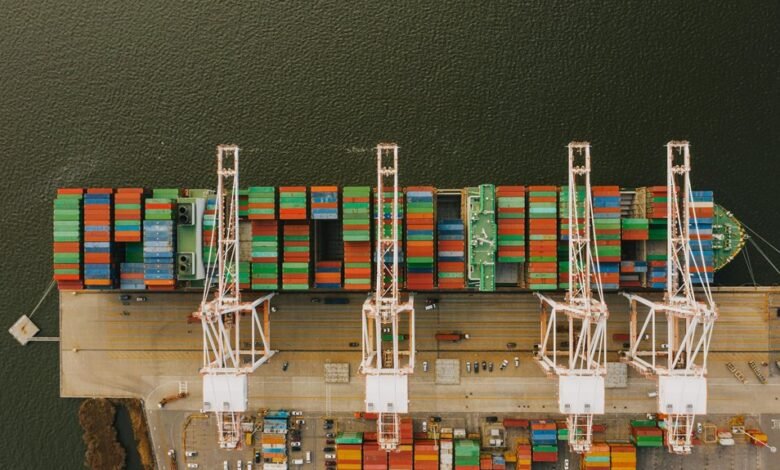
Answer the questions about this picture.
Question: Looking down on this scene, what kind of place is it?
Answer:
port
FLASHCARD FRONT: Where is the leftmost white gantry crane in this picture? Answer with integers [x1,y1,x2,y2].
[195,142,284,450]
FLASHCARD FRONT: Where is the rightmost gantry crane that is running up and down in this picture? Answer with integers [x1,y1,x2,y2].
[609,142,721,450]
